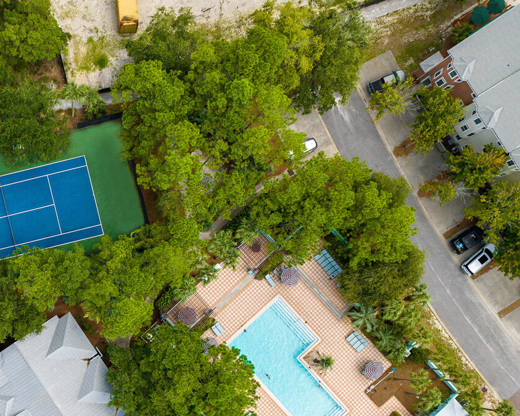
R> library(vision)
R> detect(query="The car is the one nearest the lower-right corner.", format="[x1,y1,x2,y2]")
[458,246,495,274]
